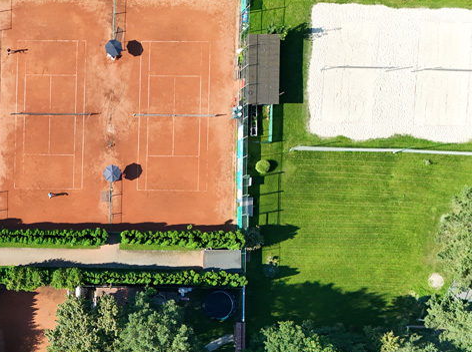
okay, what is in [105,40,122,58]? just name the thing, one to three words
umbrella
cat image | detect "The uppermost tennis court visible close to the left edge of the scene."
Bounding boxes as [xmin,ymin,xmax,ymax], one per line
[0,0,114,241]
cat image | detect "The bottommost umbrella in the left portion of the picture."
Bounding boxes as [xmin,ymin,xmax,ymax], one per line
[104,166,120,183]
